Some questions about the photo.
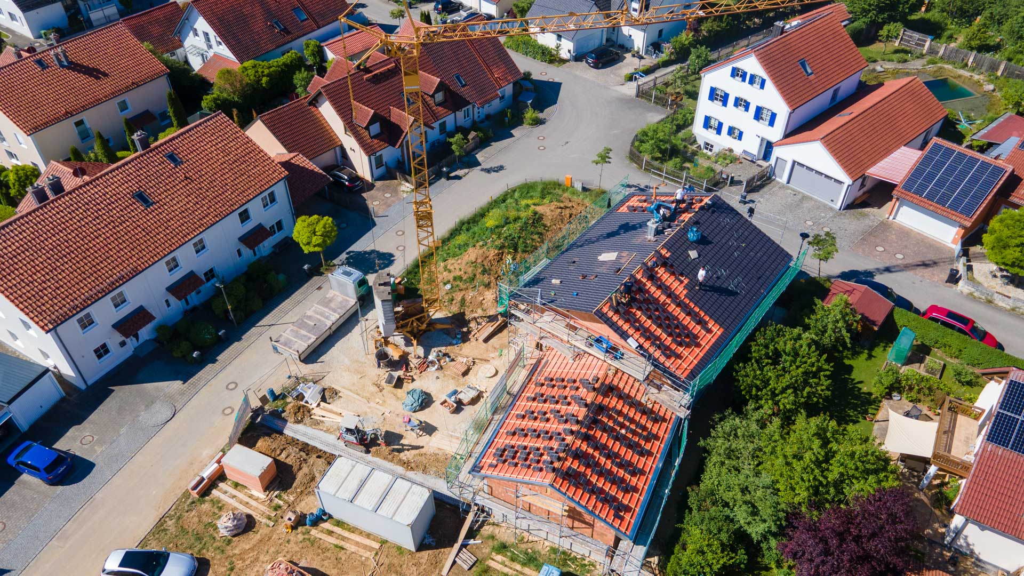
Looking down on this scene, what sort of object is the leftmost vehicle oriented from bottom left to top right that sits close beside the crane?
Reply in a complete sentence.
It looks like the leftmost vehicle oriented from bottom left to top right that sits close beside the crane is a truck.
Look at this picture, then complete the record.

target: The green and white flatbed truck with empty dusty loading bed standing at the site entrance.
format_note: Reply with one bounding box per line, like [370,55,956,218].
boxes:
[266,270,365,371]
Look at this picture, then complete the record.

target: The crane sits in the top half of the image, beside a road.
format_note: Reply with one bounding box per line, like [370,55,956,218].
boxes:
[338,0,834,358]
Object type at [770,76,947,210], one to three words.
building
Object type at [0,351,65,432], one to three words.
building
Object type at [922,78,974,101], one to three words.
swimming pool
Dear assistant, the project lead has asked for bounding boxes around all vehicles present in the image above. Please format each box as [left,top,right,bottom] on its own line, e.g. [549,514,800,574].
[585,47,619,68]
[464,10,496,19]
[100,547,201,576]
[266,270,365,371]
[853,274,917,316]
[330,167,368,196]
[4,445,78,489]
[339,407,396,450]
[435,0,463,15]
[923,308,994,348]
